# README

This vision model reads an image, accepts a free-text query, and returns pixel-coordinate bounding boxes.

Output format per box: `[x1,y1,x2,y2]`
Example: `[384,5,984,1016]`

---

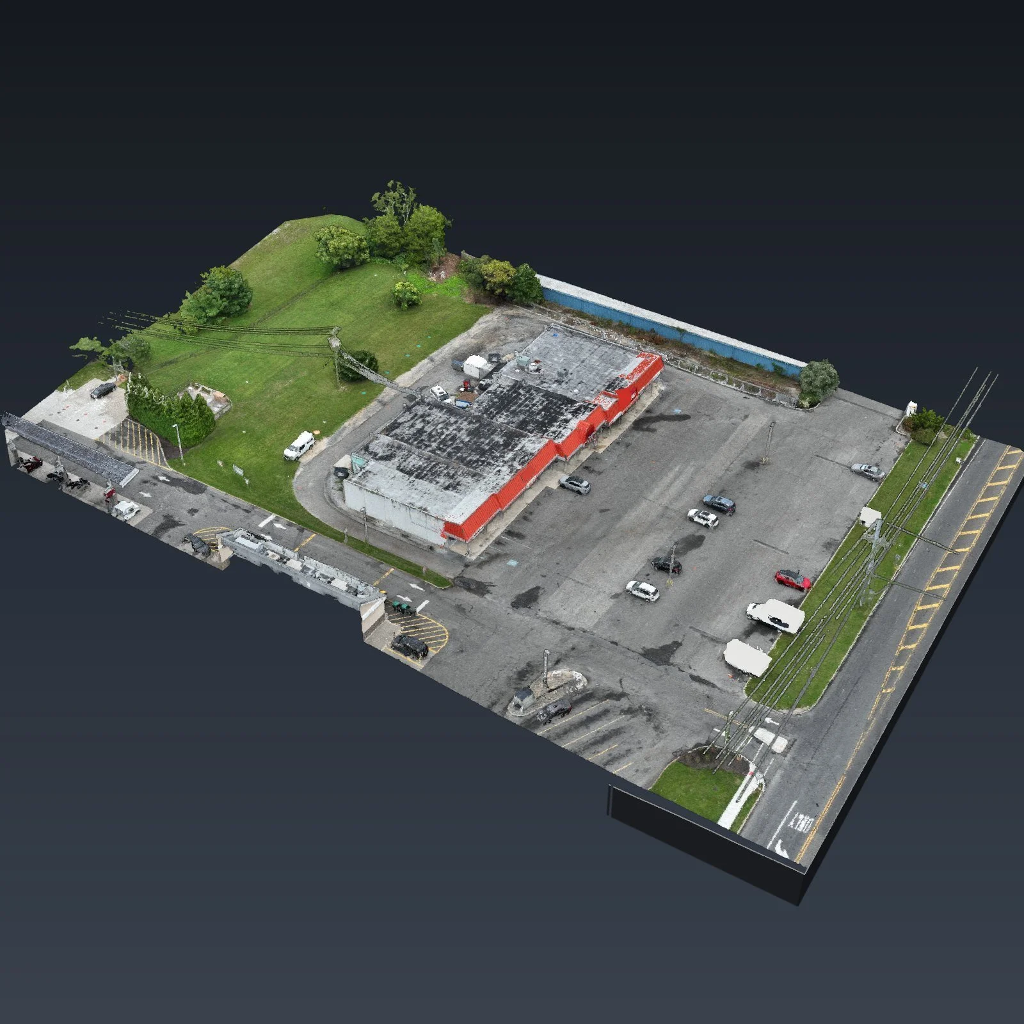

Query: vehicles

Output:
[109,500,144,520]
[687,509,719,529]
[285,429,314,457]
[746,598,805,634]
[46,471,70,487]
[774,568,811,592]
[536,697,575,724]
[625,581,659,603]
[431,384,454,405]
[721,638,772,675]
[181,536,211,557]
[390,635,429,657]
[703,495,737,515]
[560,477,590,495]
[461,370,476,389]
[64,478,93,494]
[89,380,119,399]
[852,465,885,482]
[15,455,45,471]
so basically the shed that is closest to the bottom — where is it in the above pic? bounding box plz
[511,684,536,711]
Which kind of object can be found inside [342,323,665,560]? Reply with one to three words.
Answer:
building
